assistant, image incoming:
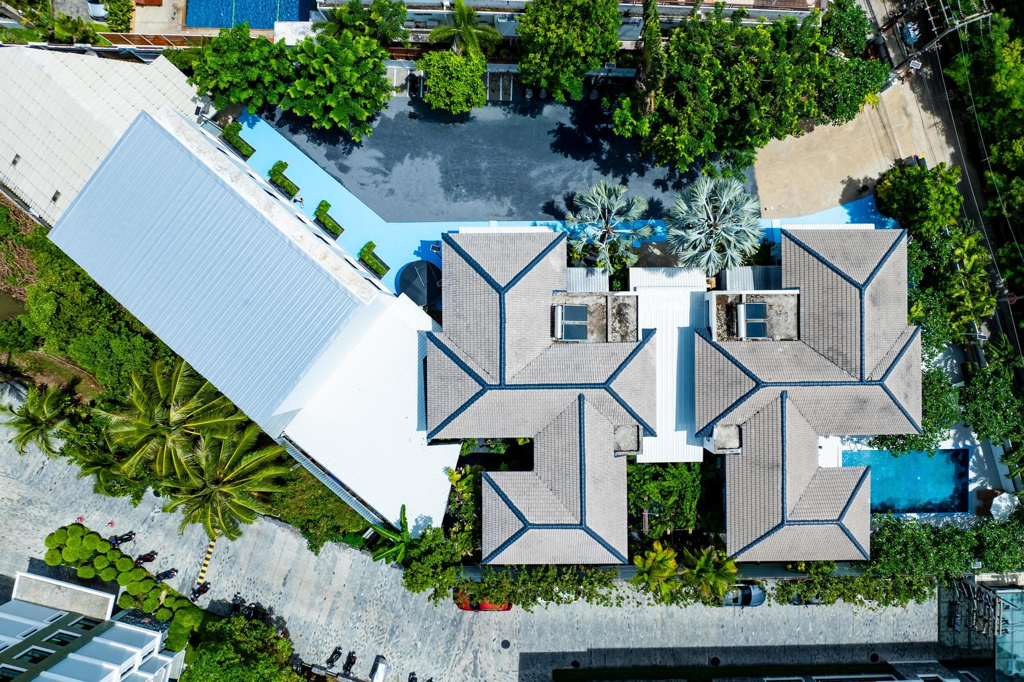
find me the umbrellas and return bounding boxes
[398,261,441,305]
[973,493,1012,520]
